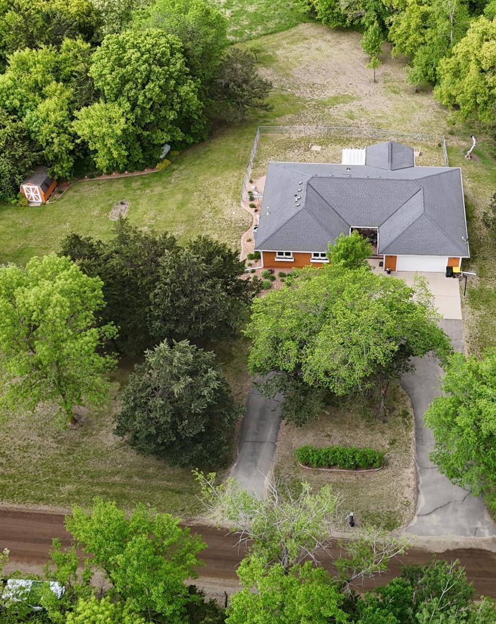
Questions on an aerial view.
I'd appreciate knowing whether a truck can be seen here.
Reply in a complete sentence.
No, I find no truck anywhere in the image.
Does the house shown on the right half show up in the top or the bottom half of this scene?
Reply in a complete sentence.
The top half of the photo is where the house shown on the right half is.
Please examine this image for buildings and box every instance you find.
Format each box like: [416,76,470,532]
[18,162,56,206]
[253,141,476,276]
